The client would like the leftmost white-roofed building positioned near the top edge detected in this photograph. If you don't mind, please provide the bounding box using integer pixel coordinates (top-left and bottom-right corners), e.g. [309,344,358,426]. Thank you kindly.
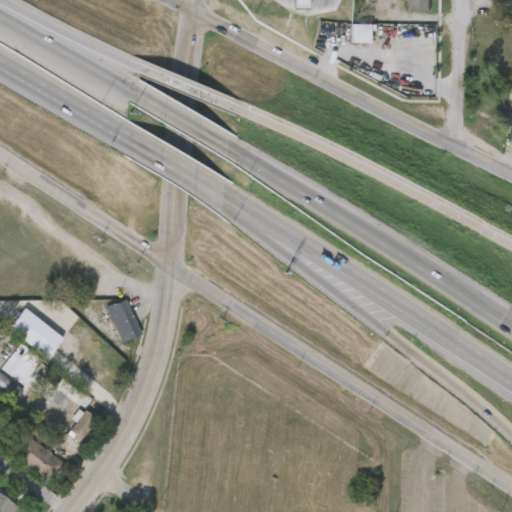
[352,24,372,44]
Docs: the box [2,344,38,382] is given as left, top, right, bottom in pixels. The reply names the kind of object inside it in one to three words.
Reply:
house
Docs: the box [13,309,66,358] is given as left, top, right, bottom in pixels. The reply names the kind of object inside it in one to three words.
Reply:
building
